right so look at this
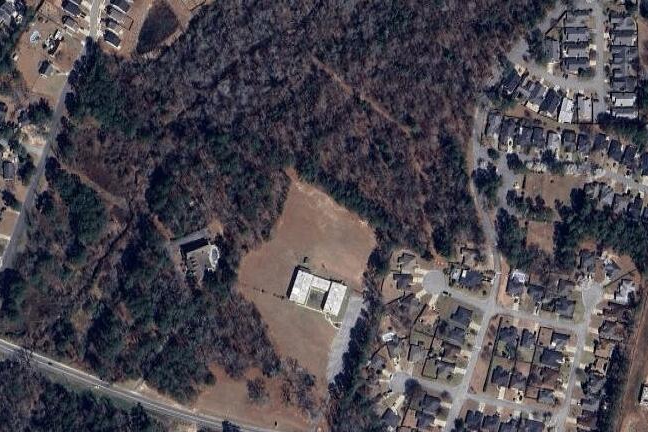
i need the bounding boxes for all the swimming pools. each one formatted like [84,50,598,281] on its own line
[31,30,41,42]
[209,245,220,267]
